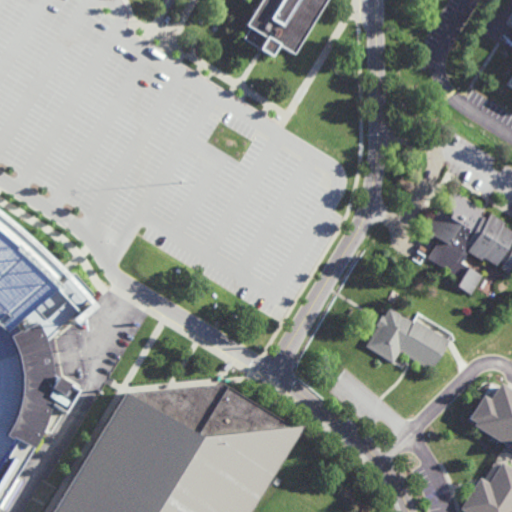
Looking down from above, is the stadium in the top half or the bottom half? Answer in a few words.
bottom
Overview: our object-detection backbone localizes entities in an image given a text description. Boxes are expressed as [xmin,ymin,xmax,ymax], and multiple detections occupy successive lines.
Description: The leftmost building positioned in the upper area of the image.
[246,0,330,58]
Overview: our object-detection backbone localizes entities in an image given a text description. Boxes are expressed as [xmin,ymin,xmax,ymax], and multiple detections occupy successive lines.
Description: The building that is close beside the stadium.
[54,384,304,512]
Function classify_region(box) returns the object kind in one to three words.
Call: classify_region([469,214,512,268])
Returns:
house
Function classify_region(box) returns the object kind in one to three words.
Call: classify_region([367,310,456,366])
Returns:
house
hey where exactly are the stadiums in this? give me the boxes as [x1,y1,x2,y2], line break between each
[0,208,100,512]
